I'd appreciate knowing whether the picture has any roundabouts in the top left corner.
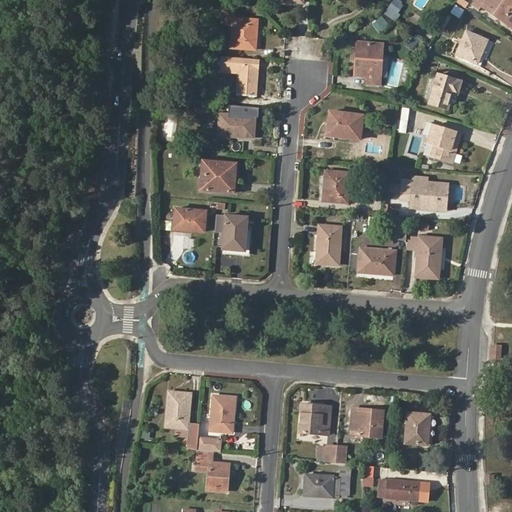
No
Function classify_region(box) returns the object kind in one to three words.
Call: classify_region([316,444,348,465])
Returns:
building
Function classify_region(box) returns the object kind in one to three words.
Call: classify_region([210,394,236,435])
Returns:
house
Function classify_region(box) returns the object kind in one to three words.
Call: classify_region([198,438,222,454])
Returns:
building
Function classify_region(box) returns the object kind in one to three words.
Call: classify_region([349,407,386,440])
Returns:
house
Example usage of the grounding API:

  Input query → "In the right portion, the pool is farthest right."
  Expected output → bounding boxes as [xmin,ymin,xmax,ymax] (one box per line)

[448,186,463,206]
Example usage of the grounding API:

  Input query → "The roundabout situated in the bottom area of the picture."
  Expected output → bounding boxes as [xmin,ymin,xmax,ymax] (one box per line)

[60,287,113,345]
